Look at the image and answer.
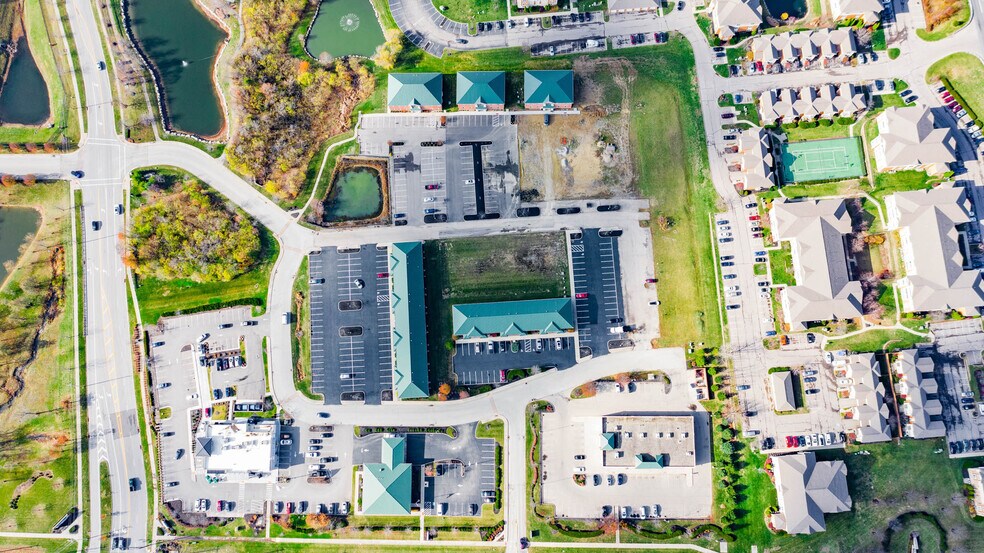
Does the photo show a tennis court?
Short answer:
Yes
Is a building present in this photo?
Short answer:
Yes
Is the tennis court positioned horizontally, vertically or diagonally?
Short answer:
horizontally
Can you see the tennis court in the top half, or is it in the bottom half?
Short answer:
top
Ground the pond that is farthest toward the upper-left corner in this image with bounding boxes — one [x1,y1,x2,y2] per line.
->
[0,37,50,125]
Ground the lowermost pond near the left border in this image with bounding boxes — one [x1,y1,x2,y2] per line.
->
[0,208,41,279]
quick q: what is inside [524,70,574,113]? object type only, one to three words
building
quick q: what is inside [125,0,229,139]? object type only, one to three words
pond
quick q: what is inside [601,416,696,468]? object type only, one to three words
building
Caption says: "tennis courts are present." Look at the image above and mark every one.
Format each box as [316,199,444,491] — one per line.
[781,134,871,184]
